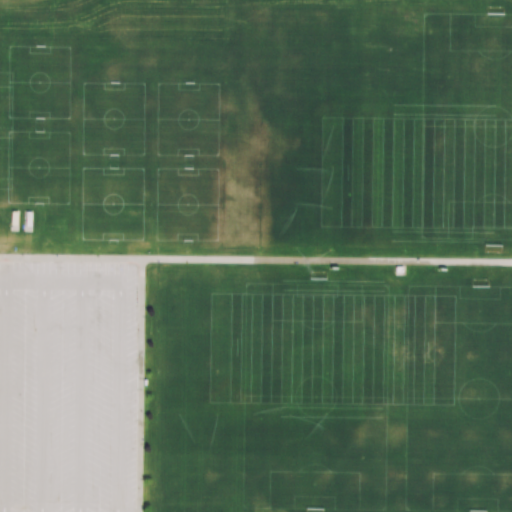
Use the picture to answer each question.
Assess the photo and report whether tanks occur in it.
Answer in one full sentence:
No, no tank can be seen from above.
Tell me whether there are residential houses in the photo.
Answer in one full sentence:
No, there's no residential house here.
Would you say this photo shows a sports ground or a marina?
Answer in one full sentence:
The picture captures a sports ground.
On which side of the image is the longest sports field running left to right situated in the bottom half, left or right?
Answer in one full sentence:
The longest sports field running left to right situated in the bottom half sits on the right side.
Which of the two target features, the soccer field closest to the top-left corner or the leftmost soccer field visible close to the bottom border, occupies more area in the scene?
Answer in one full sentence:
The leftmost soccer field visible close to the bottom border takes up more space than the soccer field closest to the top-left corner.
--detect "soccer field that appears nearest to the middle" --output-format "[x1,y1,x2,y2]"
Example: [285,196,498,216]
[157,168,222,243]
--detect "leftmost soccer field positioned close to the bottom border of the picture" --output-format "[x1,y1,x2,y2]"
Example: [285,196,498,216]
[243,406,390,510]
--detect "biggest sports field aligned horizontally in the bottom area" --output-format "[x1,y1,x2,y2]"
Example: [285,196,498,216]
[209,293,458,406]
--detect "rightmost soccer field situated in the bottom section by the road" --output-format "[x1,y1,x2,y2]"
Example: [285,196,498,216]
[405,285,512,512]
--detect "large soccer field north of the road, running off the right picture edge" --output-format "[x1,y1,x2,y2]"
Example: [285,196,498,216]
[421,13,512,116]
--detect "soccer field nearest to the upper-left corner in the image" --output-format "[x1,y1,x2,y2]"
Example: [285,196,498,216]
[8,45,73,120]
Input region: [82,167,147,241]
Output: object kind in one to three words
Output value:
soccer field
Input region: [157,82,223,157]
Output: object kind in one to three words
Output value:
soccer field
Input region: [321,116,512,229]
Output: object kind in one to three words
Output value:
sports field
